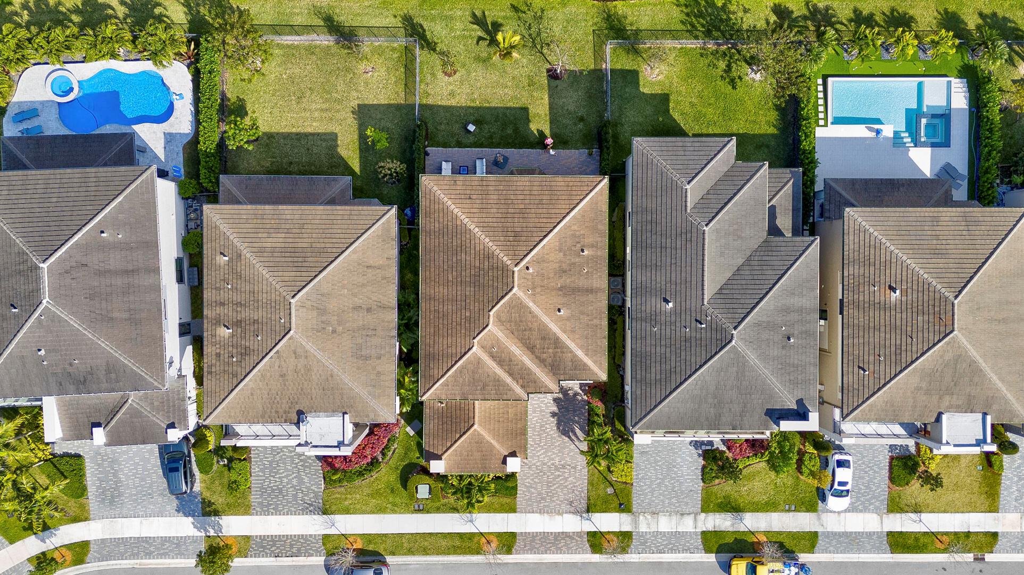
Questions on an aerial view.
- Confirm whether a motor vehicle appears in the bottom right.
Yes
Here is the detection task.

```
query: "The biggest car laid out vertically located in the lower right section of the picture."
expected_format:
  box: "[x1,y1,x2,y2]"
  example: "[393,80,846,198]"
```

[822,450,854,515]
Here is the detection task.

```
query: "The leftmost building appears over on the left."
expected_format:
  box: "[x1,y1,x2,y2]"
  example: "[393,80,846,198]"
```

[0,131,202,447]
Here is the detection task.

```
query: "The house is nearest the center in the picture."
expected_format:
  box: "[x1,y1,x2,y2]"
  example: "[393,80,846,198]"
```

[418,166,610,475]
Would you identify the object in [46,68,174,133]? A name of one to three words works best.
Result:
swimming pool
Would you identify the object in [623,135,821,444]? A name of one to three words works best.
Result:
house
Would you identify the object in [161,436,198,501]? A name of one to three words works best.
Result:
car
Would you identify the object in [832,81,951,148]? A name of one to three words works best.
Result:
swimming pool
